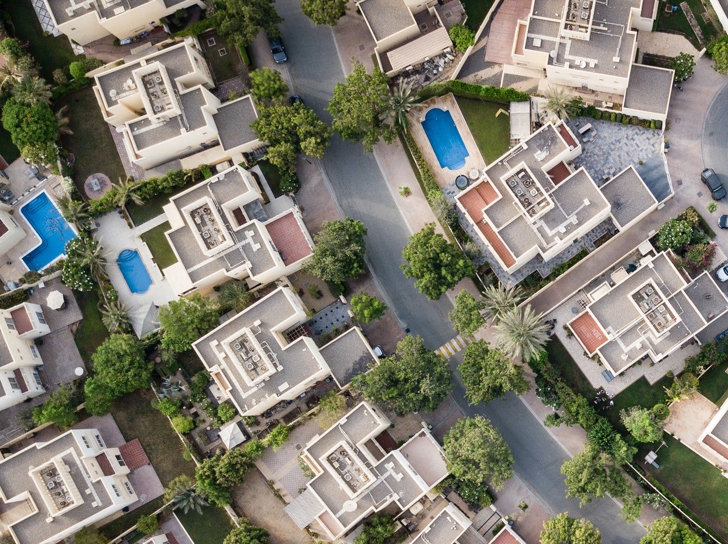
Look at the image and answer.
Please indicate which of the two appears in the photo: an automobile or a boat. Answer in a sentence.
I can see an automobile in this picture.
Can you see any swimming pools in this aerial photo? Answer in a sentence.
Yes, you can see a swimming pool in this photo.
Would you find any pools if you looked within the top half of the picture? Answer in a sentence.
Yes, a pool shows up within the top half of the picture.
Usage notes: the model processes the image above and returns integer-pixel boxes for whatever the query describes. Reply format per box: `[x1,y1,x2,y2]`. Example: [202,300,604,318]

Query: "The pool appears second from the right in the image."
[111,243,158,300]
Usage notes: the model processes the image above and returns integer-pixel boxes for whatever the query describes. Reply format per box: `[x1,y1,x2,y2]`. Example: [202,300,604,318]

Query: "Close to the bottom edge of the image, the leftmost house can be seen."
[0,429,139,544]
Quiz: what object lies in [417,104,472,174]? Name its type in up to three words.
swimming pool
